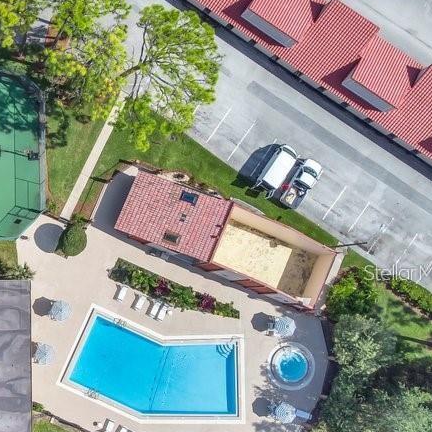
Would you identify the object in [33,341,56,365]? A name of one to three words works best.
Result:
umbrella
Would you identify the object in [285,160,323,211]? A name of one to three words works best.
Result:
truck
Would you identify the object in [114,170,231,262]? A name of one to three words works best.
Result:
building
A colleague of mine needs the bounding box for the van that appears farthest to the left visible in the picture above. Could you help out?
[252,147,298,207]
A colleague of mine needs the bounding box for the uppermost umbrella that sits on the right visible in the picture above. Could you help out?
[272,313,296,337]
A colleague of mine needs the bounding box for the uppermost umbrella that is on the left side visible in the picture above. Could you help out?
[48,298,72,322]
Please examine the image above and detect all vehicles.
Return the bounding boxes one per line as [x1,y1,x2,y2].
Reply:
[252,147,298,207]
[285,160,323,211]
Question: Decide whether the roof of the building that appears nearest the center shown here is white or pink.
pink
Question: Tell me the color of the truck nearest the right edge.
white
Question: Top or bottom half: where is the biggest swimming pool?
bottom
